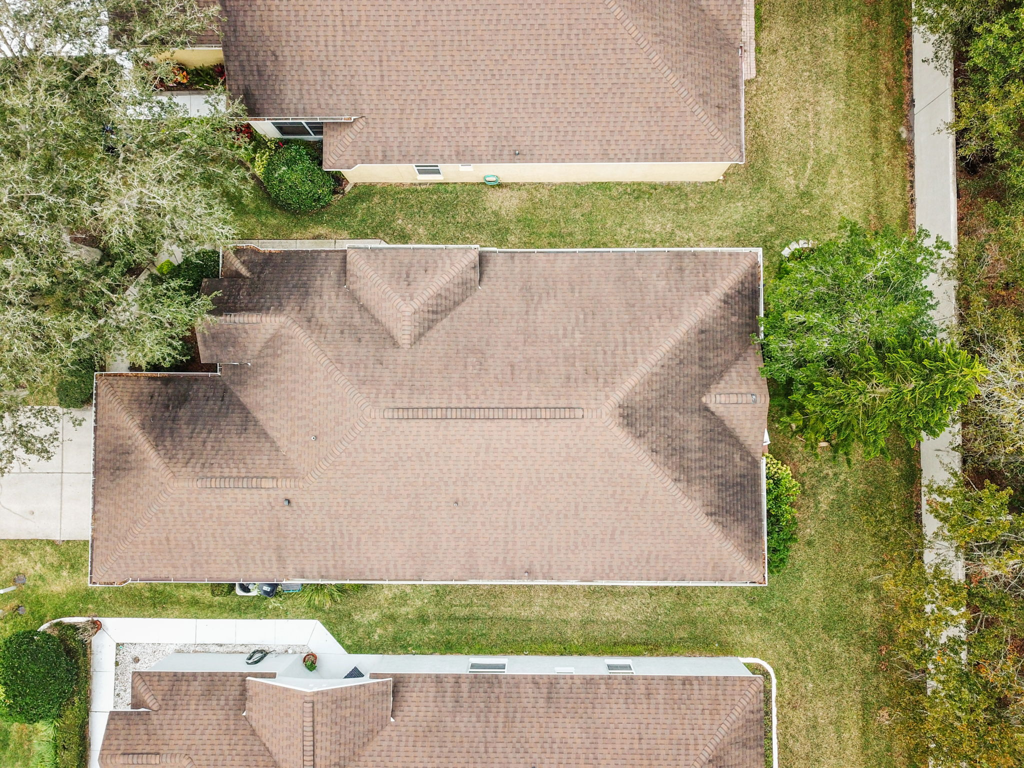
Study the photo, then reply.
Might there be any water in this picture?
No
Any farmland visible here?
No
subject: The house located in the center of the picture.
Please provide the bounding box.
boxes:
[85,243,773,591]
